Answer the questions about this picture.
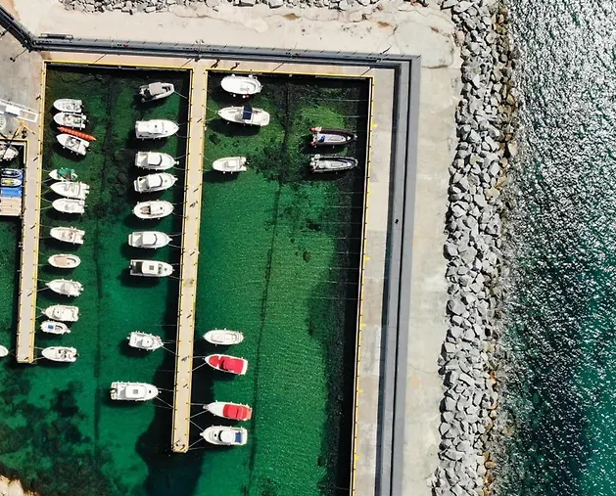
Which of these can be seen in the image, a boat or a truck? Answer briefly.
boat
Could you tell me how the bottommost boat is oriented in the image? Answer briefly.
from side to side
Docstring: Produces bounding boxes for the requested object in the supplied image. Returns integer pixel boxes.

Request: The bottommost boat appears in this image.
[189,426,251,447]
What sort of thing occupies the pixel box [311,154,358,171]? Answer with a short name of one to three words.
boat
